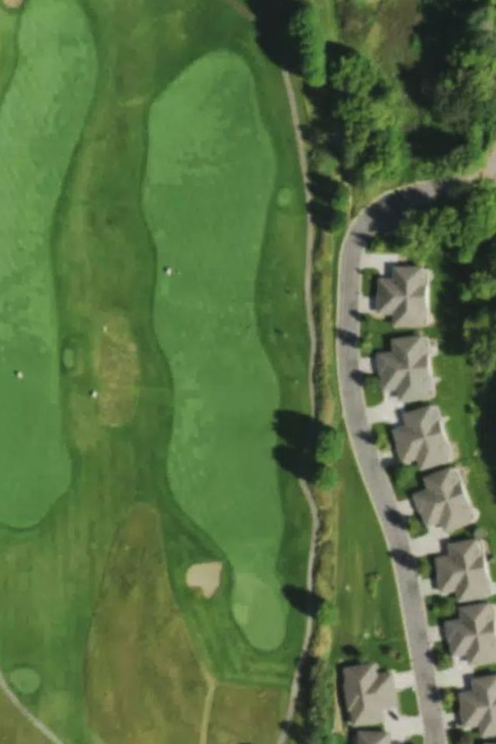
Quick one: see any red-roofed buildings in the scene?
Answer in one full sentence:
No, this view has no red-roofed building in it.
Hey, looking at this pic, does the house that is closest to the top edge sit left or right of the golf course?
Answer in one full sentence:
Looking at the photo, the house that is closest to the top edge lies to the right of the golf course.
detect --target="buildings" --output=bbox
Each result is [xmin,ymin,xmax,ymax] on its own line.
[375,266,430,326]
[354,730,405,744]
[433,537,493,602]
[443,603,496,668]
[411,468,474,535]
[389,403,451,470]
[337,664,394,728]
[377,336,434,400]
[459,676,496,739]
